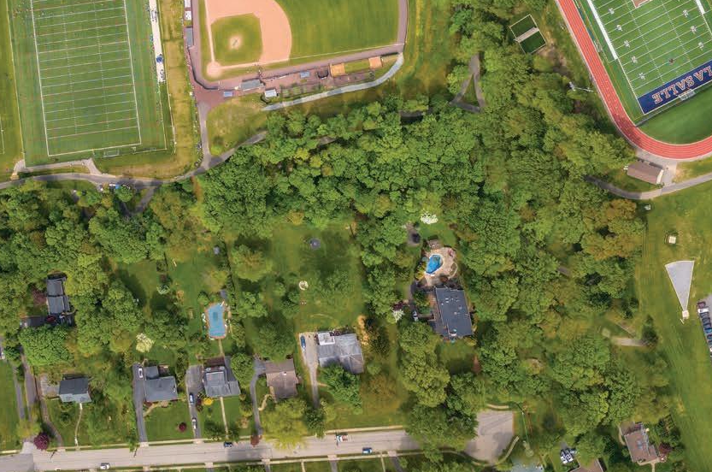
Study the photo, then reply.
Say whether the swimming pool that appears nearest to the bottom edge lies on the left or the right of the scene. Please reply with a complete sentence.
You can find the swimming pool that appears nearest to the bottom edge on the left side of the picture.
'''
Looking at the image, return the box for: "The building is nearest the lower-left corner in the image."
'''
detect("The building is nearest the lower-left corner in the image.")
[58,377,91,402]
